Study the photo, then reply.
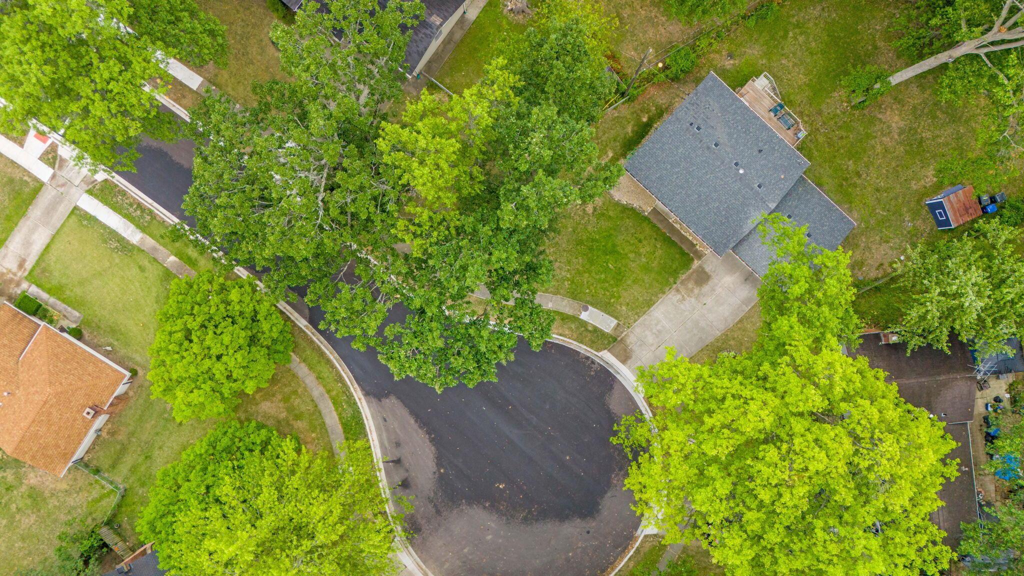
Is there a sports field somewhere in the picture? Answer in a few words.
No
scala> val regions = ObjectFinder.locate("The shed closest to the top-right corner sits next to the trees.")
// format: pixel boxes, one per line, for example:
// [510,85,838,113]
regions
[926,188,984,230]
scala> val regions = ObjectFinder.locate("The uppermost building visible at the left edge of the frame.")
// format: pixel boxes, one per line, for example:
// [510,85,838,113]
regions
[0,293,142,478]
